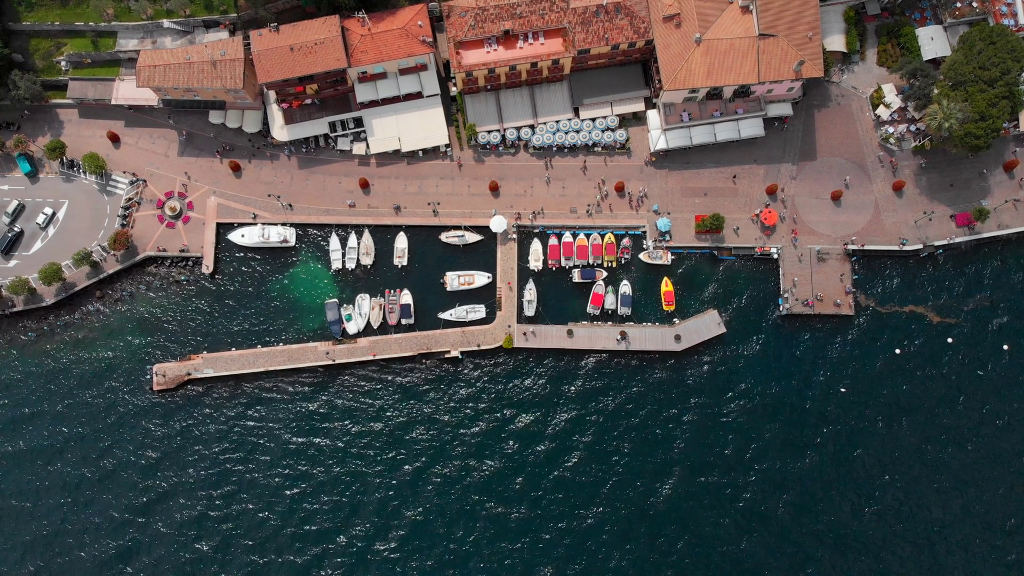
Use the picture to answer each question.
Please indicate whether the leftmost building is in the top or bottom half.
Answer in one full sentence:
Seen from above, the leftmost building lies in the top half of the view.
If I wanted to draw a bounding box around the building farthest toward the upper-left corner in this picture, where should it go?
[67,77,118,106]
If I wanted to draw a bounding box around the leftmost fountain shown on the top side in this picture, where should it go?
[162,199,182,217]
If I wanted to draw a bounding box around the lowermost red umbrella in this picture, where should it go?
[759,208,777,226]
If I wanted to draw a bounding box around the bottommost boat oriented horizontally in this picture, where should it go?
[437,305,487,329]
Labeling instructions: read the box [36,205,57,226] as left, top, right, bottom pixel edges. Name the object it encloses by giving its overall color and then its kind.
white car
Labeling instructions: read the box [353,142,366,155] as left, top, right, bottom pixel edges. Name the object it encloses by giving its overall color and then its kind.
white umbrella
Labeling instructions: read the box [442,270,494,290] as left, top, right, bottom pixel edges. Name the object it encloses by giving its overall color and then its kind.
white boat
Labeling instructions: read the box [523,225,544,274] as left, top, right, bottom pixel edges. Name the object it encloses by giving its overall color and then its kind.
white boat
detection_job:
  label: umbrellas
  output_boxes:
[570,119,582,131]
[577,131,589,144]
[872,103,893,122]
[558,121,571,133]
[477,132,489,145]
[489,132,501,144]
[602,130,615,144]
[582,120,594,133]
[505,129,518,141]
[534,125,546,137]
[489,216,507,233]
[606,116,618,129]
[656,218,671,233]
[590,130,602,142]
[337,138,350,152]
[353,142,366,155]
[530,135,543,148]
[881,95,903,112]
[614,130,626,142]
[542,133,555,146]
[554,132,567,145]
[759,208,777,226]
[520,127,533,141]
[546,122,558,134]
[878,82,898,99]
[566,133,578,146]
[594,118,606,131]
